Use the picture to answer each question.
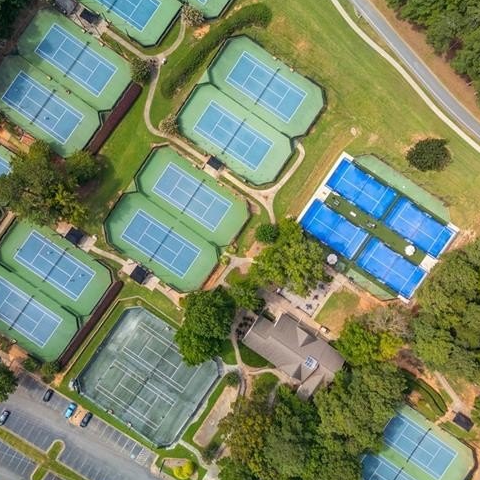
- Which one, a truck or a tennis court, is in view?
tennis court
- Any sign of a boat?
No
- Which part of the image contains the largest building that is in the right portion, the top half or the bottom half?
bottom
